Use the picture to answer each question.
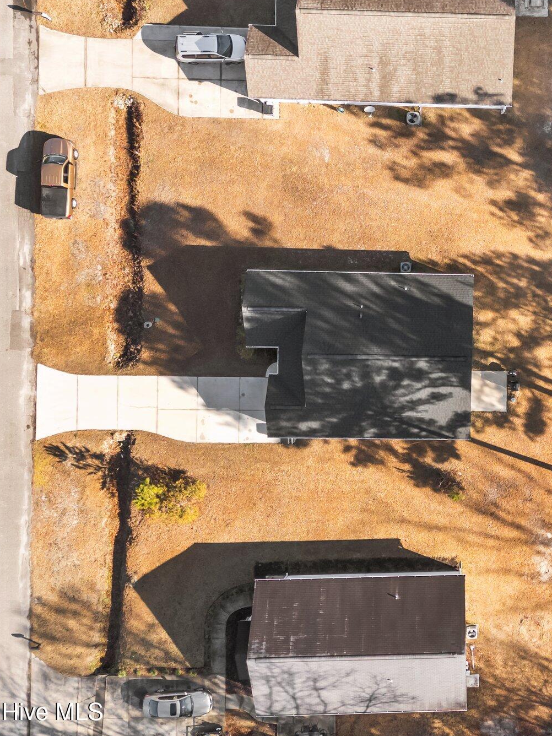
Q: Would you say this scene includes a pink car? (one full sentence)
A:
No, this view has no pink car in it.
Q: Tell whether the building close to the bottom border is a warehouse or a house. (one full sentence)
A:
Specifically, the building close to the bottom border is a house.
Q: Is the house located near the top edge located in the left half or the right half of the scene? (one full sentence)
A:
The house located near the top edge appears in the right half of the scene.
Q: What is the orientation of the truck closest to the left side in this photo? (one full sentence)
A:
Seen from above, the truck closest to the left side lies up and down.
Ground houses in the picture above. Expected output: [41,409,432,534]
[242,0,517,116]
[236,560,467,718]
[242,269,474,442]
